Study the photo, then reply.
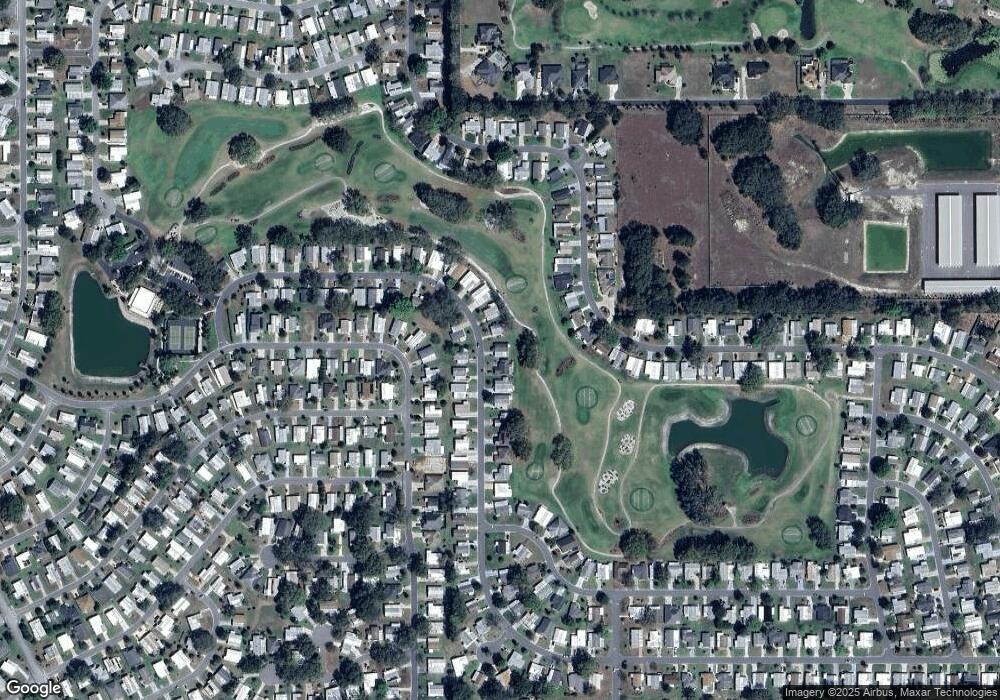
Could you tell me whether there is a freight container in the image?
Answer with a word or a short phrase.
No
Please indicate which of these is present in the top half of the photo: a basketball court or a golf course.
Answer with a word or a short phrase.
golf course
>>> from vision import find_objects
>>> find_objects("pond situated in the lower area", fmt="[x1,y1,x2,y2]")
[668,398,787,477]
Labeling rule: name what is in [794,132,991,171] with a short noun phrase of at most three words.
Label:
pond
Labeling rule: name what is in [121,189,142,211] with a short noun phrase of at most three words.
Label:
house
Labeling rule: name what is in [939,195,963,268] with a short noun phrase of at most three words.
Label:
building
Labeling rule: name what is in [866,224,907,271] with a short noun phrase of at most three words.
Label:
pond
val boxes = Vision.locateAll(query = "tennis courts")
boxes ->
[185,325,195,350]
[172,325,183,350]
